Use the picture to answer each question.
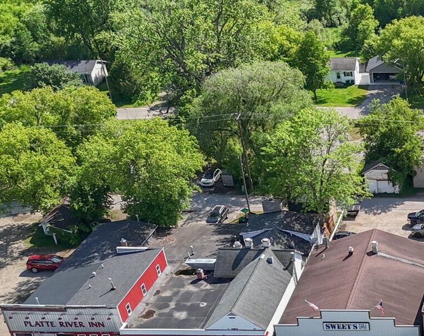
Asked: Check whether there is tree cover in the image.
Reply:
Yes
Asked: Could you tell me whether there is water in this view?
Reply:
No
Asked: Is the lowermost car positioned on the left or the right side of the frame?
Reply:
left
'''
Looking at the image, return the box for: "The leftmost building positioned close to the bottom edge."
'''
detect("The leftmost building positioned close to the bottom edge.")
[0,221,165,336]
